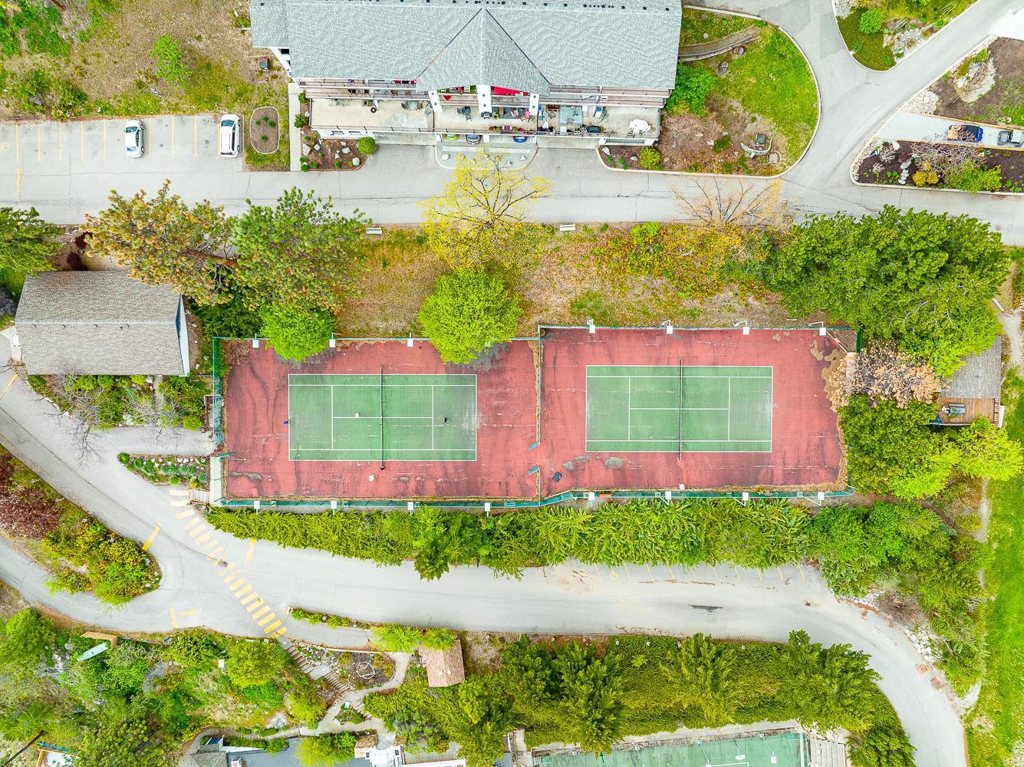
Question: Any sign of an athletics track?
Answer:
No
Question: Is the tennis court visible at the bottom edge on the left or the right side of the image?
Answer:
right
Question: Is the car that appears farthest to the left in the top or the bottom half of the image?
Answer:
top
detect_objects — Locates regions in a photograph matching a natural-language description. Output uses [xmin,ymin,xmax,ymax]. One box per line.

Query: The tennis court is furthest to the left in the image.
[219,335,551,501]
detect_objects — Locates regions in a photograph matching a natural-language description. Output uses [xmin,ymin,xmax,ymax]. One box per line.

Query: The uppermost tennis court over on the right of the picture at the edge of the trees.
[541,325,852,502]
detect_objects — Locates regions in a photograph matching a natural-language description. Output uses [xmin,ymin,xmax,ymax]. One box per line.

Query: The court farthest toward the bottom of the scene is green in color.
[538,734,800,767]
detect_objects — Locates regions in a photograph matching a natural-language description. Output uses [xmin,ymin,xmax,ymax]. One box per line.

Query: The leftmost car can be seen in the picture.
[122,119,144,157]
